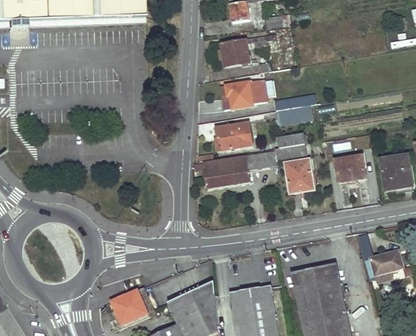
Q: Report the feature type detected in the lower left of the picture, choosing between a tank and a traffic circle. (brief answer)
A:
traffic circle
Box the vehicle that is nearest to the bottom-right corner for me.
[350,304,368,319]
